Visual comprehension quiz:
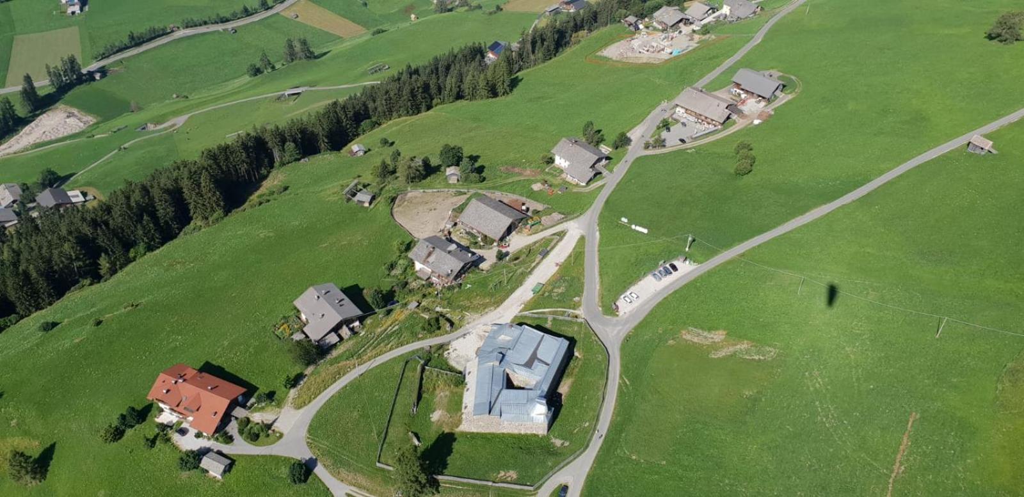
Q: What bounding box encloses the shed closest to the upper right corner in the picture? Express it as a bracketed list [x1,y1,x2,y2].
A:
[966,135,996,155]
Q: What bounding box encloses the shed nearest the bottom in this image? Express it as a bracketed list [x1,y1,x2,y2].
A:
[201,454,234,478]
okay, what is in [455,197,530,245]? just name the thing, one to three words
barn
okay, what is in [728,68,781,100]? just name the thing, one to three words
barn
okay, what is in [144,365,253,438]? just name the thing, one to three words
house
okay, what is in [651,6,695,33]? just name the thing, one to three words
house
